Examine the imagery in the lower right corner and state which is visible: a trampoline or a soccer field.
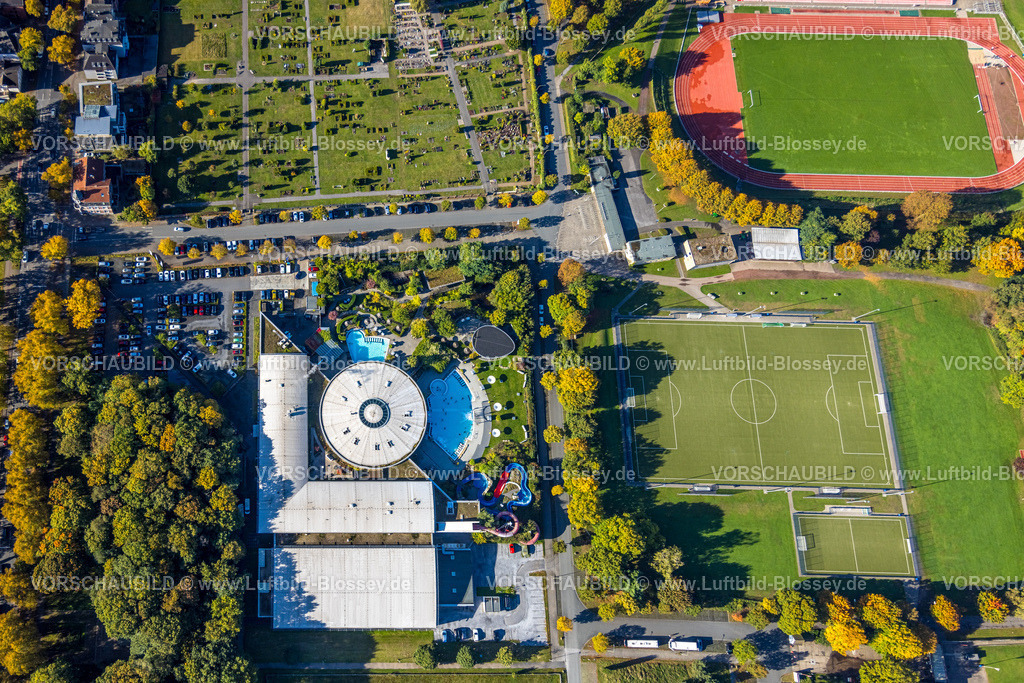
soccer field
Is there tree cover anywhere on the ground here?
Yes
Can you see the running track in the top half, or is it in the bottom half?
top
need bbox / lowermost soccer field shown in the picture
[795,514,914,577]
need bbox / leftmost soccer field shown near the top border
[732,33,998,177]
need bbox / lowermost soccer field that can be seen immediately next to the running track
[620,319,895,488]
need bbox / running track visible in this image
[671,8,1024,193]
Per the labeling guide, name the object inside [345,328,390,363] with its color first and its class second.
blue swimming pool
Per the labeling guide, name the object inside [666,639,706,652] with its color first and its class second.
white vehicle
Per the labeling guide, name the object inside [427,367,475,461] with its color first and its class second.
blue swimming pool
